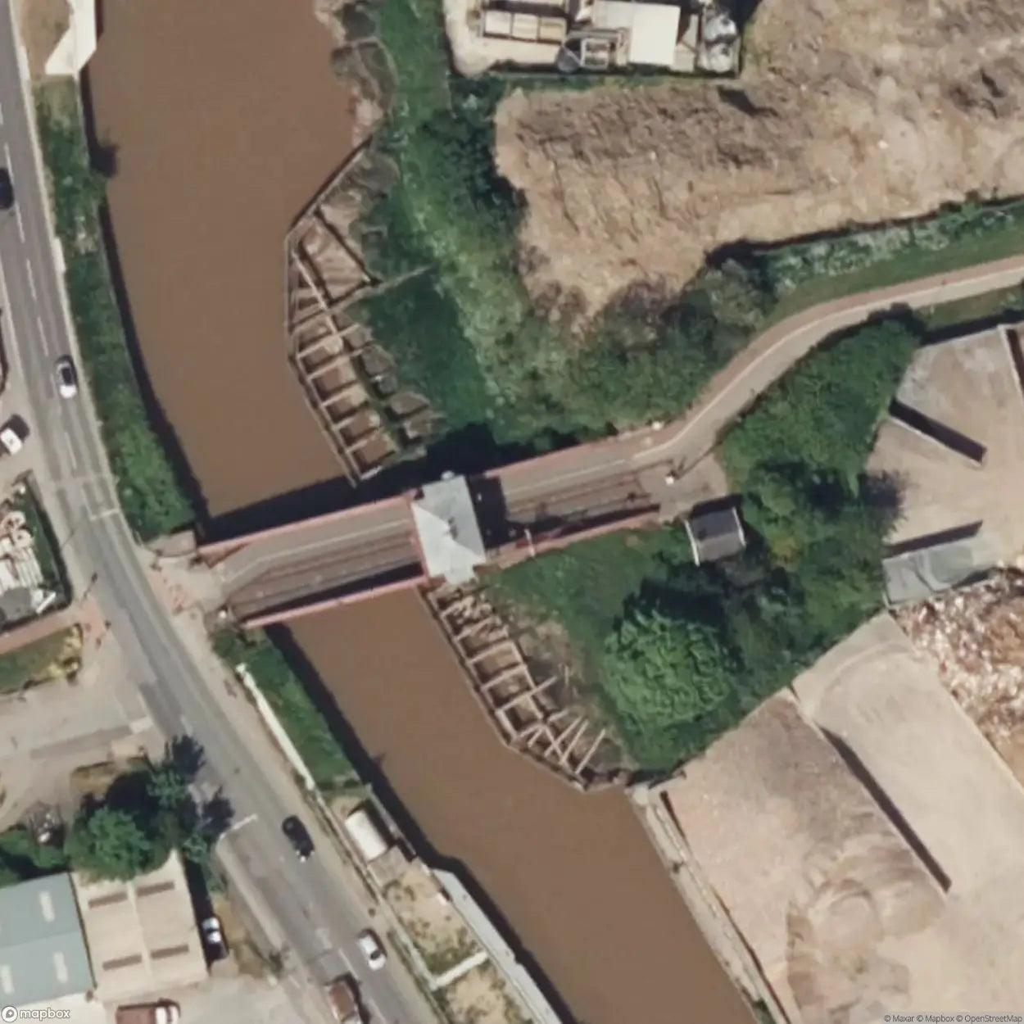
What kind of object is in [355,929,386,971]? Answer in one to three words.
car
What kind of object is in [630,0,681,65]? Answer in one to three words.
shed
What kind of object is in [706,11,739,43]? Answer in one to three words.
silo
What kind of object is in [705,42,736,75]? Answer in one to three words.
silo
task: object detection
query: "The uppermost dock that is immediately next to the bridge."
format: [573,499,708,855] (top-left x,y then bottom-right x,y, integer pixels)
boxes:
[285,134,444,489]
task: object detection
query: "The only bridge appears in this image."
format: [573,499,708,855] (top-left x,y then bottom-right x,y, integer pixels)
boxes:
[200,427,660,626]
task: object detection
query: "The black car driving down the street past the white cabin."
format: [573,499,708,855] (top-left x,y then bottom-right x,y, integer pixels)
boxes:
[281,816,315,860]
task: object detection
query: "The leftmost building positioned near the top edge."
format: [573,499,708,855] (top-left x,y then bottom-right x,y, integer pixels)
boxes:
[592,0,634,29]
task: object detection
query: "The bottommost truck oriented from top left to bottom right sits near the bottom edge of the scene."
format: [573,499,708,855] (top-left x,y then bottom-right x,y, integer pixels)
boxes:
[326,978,369,1024]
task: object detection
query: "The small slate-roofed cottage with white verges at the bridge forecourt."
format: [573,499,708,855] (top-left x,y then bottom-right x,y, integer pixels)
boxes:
[686,506,749,564]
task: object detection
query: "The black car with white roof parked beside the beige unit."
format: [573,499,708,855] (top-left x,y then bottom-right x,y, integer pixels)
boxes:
[203,917,224,959]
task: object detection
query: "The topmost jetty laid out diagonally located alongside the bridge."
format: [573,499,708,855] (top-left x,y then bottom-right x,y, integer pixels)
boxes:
[417,582,626,793]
